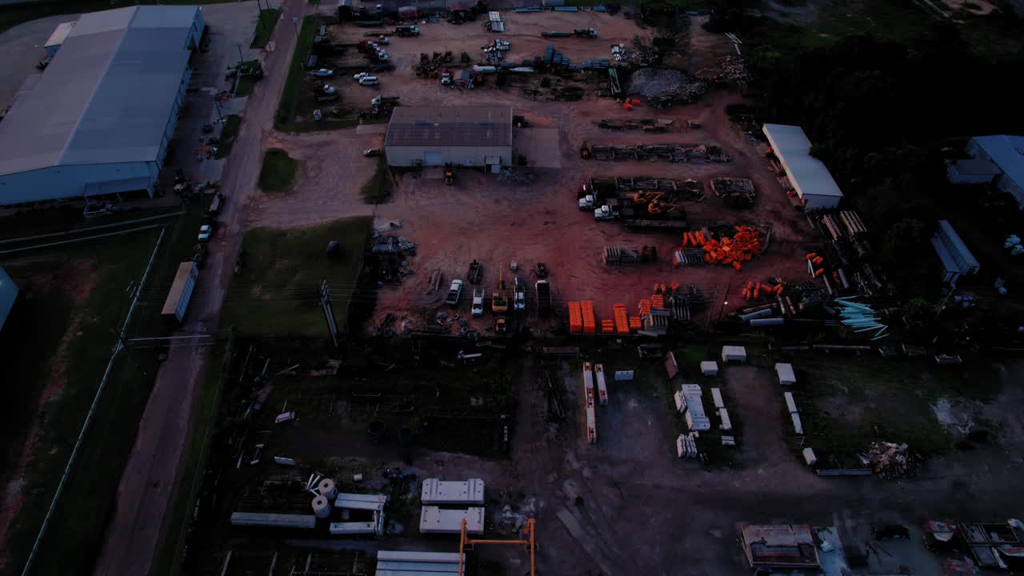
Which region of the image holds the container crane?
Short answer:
bottom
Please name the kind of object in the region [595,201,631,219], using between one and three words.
vehicle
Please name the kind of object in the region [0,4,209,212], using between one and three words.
warehouse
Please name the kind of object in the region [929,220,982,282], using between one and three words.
trailer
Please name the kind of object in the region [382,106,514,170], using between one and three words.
building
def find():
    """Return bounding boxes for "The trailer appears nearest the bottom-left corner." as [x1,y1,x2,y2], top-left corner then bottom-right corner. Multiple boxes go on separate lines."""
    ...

[158,259,199,329]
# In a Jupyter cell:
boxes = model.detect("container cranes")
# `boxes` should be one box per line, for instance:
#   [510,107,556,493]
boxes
[458,515,536,576]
